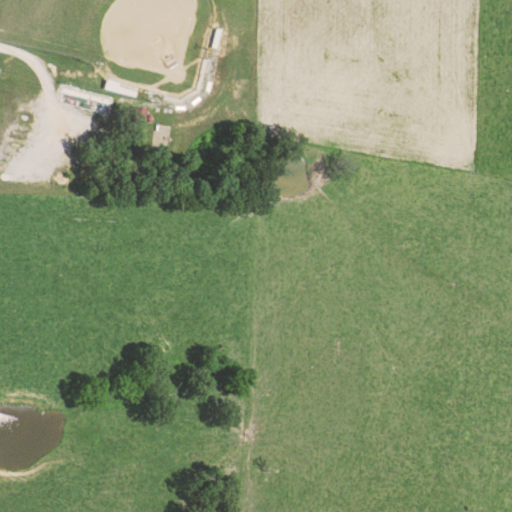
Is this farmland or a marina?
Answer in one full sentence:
This image shows farmland.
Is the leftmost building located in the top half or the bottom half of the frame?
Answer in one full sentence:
The top half of the photo is where the leftmost building is.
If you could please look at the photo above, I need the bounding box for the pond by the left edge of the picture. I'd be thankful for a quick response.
[0,405,64,469]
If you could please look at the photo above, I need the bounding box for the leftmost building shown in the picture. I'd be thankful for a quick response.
[53,84,114,110]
